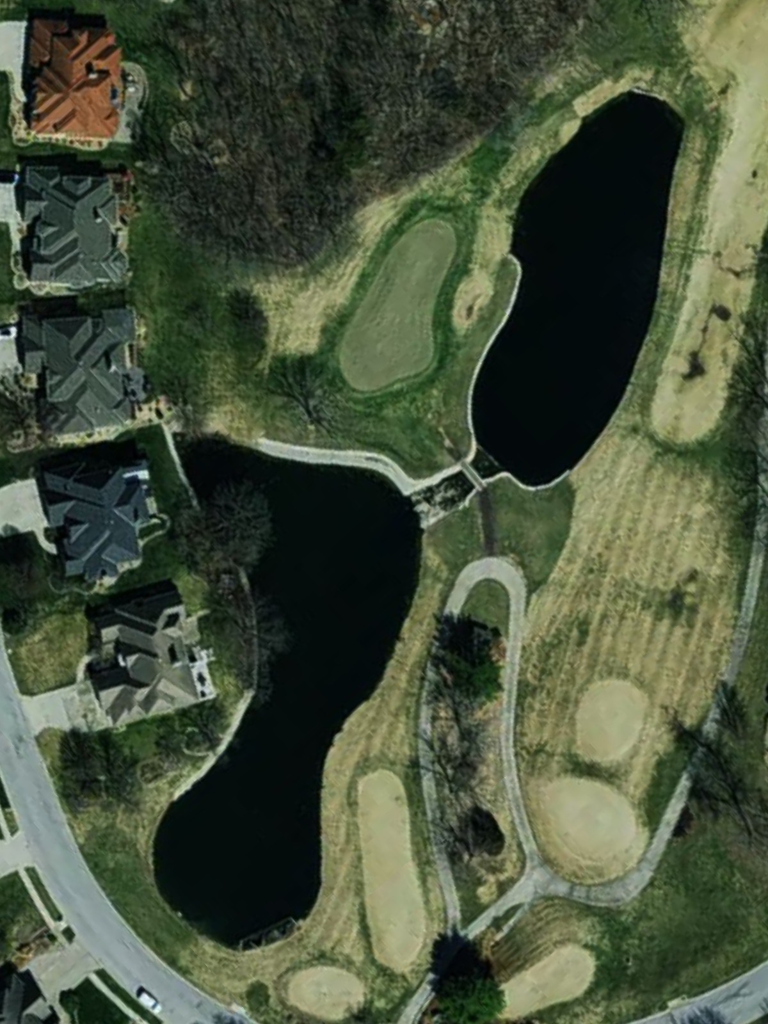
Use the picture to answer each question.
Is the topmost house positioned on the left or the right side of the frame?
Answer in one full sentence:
The topmost house appears in the left half of the scene.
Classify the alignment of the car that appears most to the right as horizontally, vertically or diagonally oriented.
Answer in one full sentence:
In this picture, the car that appears most to the right is oriented diagonally.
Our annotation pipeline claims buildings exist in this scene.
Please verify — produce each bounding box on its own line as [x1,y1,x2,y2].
[36,456,152,584]
[88,588,204,724]
[29,17,121,136]
[0,962,59,1024]
[24,165,127,285]
[21,308,135,433]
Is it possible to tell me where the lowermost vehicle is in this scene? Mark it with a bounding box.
[138,990,159,1010]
